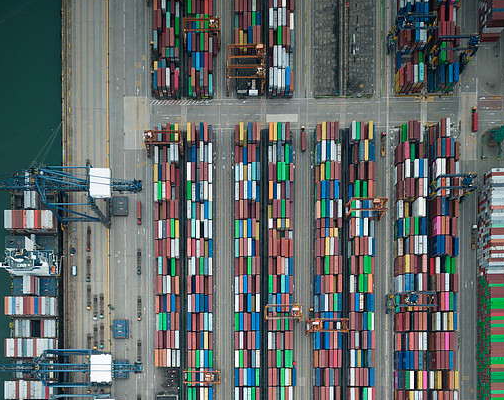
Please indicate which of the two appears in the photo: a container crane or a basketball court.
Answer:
container crane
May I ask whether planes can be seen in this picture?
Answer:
No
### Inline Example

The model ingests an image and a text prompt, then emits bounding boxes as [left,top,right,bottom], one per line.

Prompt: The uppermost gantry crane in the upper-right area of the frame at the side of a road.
[387,13,437,55]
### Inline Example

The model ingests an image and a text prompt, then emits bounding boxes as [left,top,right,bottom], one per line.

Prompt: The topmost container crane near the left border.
[0,165,143,230]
